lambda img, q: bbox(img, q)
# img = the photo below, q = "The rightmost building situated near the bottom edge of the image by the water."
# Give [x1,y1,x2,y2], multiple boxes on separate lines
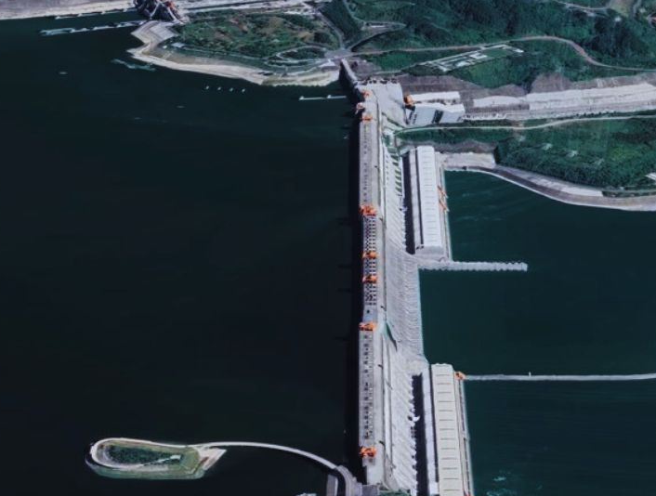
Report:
[410,365,473,496]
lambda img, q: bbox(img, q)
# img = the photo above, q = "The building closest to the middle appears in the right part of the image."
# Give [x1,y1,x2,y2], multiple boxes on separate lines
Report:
[401,147,451,263]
